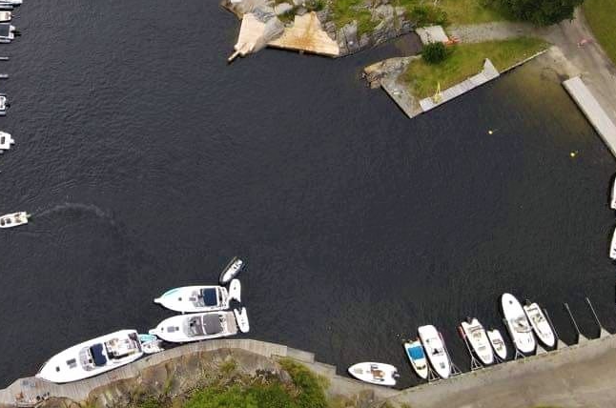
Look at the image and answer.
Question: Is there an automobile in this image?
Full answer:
No, there appears to be no automobile in this shot.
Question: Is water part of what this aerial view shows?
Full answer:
Yes, there is water in the image.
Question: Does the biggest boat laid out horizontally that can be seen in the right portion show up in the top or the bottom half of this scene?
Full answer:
The biggest boat laid out horizontally that can be seen in the right portion sits in the bottom half of the picture.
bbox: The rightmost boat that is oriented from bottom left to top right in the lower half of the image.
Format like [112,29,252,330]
[221,255,246,283]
